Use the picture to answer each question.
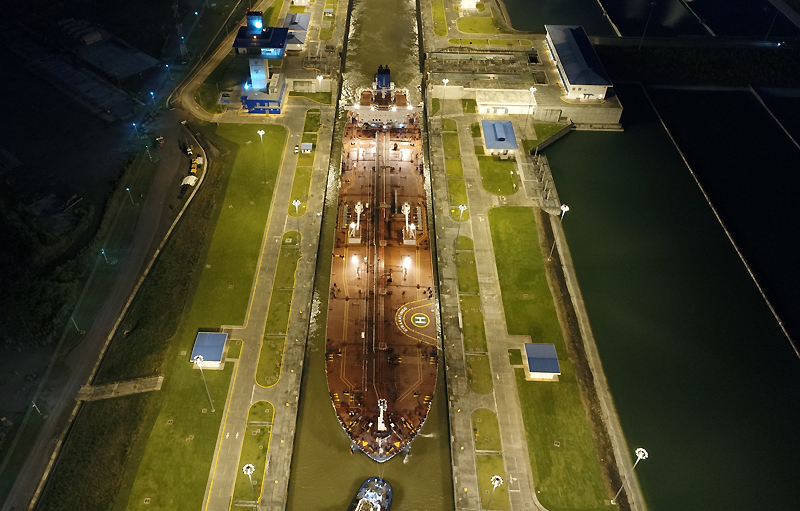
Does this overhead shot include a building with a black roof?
Yes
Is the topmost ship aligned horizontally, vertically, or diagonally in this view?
vertically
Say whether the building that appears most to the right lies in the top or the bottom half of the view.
top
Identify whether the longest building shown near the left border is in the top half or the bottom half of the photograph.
top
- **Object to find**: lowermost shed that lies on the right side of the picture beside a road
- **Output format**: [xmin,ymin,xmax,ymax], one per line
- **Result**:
[521,344,562,383]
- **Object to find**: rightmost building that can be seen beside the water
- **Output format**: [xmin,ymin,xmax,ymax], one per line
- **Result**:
[544,24,612,102]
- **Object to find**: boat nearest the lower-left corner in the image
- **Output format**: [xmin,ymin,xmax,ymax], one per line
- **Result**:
[348,477,390,511]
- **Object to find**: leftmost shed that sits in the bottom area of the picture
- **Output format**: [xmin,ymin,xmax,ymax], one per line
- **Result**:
[191,332,232,372]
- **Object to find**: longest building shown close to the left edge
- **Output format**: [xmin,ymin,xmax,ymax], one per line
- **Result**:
[9,63,145,134]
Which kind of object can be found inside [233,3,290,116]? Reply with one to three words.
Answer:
building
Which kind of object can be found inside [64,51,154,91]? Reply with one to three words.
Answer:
building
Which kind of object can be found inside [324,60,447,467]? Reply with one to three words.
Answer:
ship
